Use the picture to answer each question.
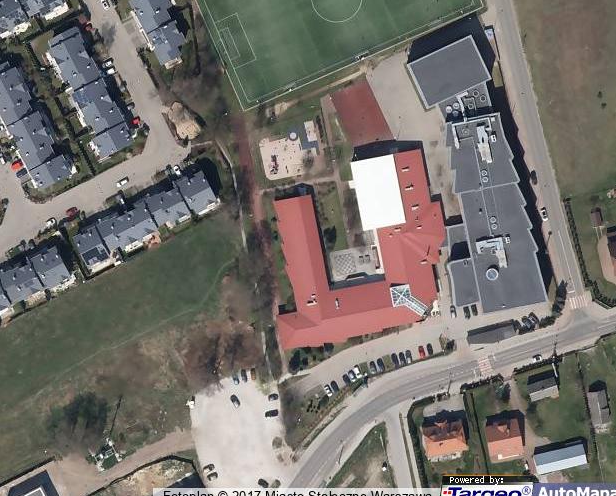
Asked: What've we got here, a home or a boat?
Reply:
home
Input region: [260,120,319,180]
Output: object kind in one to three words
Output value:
playground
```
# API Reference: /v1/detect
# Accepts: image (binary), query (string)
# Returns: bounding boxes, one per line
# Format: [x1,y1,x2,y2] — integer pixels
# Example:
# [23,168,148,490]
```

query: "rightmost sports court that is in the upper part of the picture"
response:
[331,80,396,158]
